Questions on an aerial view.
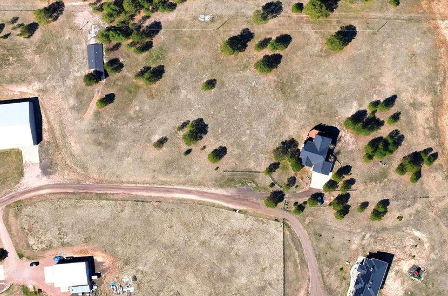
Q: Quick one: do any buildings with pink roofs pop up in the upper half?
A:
No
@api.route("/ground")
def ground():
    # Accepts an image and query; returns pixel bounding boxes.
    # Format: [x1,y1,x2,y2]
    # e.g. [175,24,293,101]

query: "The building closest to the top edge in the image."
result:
[87,44,106,79]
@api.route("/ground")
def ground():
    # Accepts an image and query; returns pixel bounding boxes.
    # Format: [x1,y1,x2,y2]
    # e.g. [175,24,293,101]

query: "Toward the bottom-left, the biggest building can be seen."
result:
[53,260,91,287]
